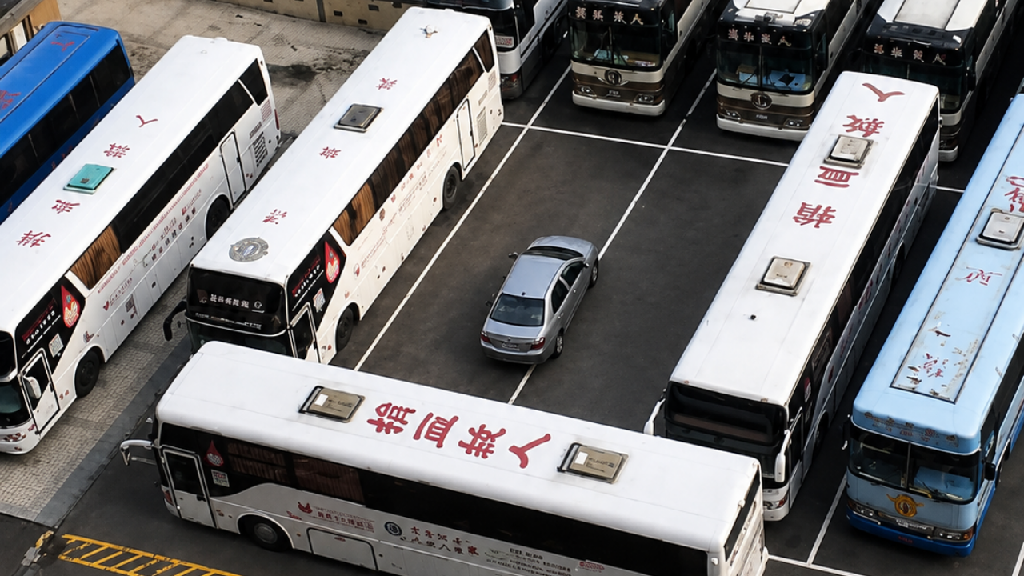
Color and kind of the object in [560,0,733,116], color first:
black bus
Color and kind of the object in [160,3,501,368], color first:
white bus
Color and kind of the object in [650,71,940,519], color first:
white bus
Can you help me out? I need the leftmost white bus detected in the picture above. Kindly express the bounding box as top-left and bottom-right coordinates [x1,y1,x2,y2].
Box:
[0,32,280,443]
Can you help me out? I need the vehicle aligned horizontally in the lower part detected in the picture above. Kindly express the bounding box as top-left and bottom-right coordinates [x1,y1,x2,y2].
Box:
[123,345,767,576]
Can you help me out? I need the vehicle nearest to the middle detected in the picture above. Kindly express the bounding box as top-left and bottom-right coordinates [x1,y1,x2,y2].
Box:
[477,235,595,367]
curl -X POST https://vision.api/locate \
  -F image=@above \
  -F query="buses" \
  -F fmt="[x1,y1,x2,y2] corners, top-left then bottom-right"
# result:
[854,0,1021,159]
[123,345,767,576]
[831,101,1024,549]
[160,3,501,368]
[705,0,884,137]
[436,0,549,92]
[560,0,733,116]
[0,20,138,233]
[650,71,940,519]
[0,32,280,443]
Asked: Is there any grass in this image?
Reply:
No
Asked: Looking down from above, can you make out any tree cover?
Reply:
No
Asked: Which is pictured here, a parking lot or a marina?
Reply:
parking lot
